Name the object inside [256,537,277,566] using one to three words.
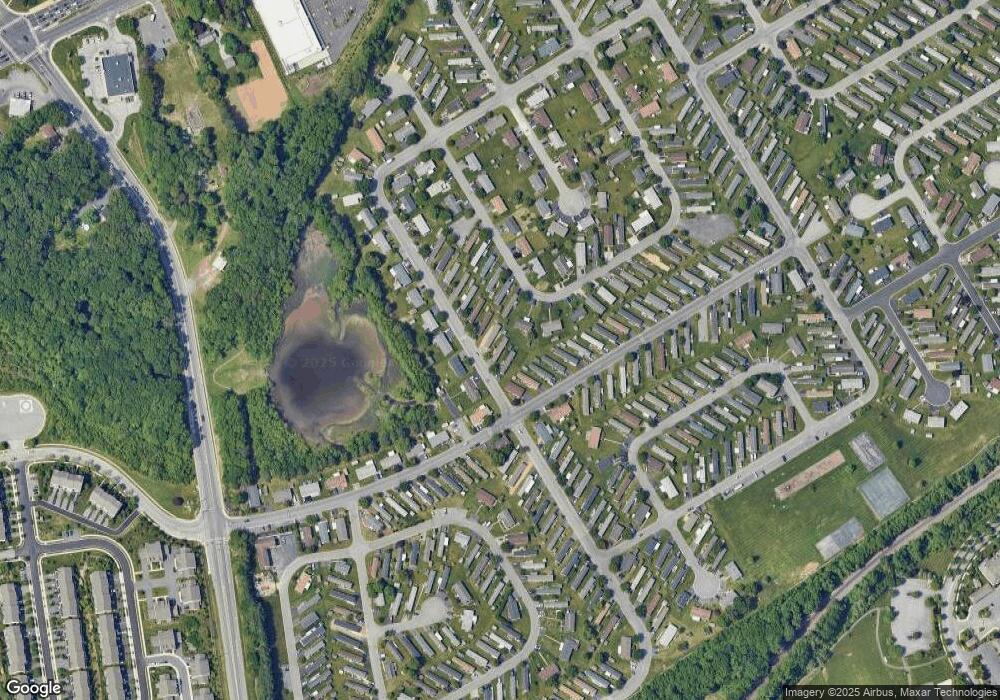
building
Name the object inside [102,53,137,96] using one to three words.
building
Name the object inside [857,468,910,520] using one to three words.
tennis court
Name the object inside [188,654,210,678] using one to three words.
house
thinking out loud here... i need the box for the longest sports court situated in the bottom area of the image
[775,450,845,500]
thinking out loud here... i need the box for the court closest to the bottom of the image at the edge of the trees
[816,517,863,560]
